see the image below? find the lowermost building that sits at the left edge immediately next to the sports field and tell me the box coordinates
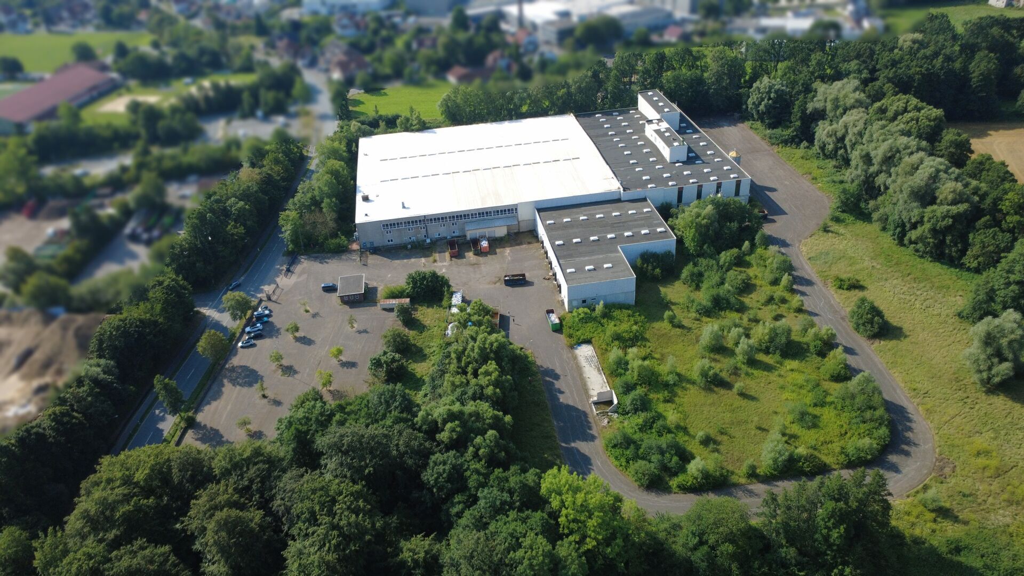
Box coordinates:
[0,64,118,127]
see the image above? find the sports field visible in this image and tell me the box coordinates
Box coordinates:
[0,33,155,73]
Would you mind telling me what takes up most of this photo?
trees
